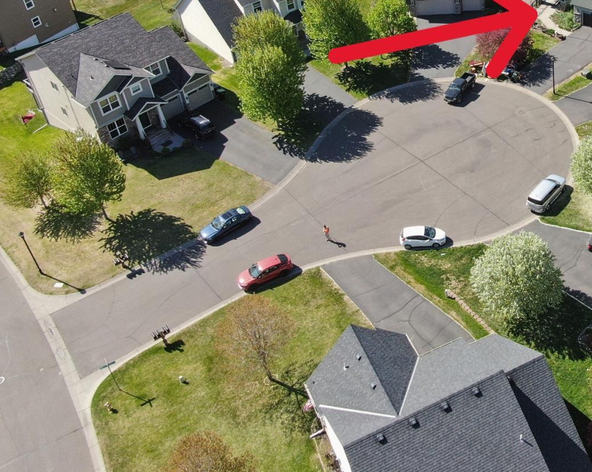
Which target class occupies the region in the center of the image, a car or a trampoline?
car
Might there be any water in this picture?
No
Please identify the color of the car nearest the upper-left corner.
black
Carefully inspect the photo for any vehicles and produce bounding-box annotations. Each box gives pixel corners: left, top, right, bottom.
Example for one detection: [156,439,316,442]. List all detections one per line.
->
[398,226,447,252]
[443,67,482,102]
[523,173,575,215]
[171,115,222,140]
[235,250,297,293]
[197,199,255,241]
